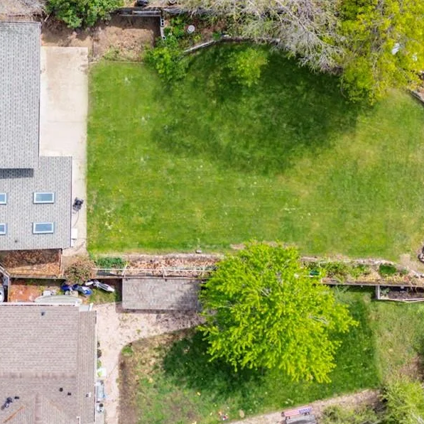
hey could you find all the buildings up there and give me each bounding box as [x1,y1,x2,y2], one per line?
[0,301,99,424]
[0,22,74,250]
[122,274,202,311]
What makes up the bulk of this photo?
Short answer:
grass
